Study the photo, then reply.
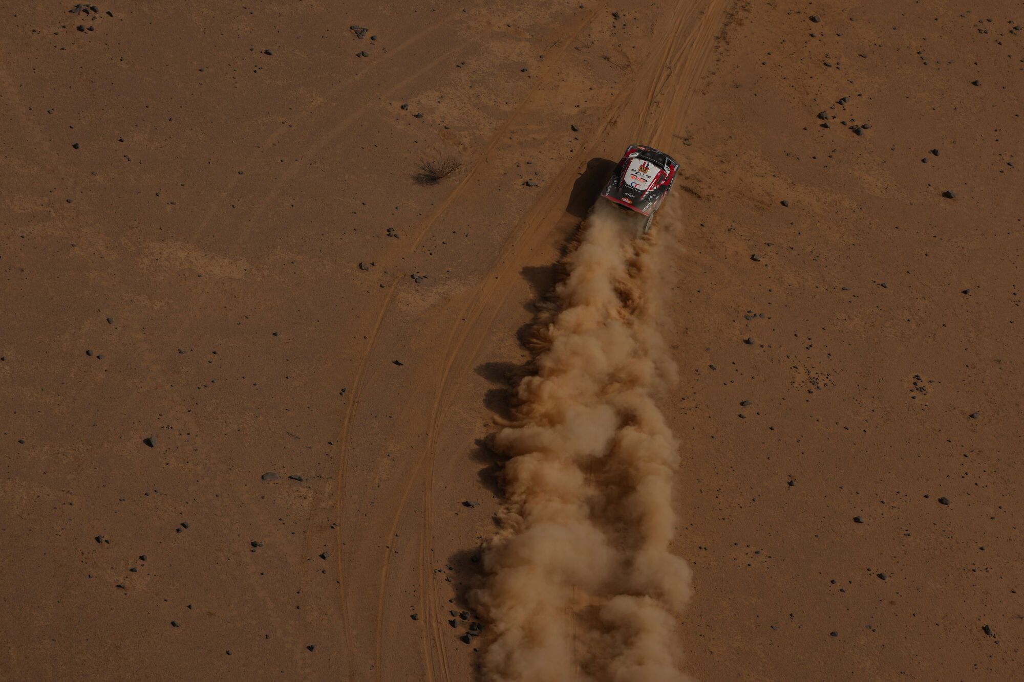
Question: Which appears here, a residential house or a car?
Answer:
car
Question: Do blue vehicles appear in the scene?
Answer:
No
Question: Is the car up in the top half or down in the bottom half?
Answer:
top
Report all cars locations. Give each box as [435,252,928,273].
[596,145,680,235]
